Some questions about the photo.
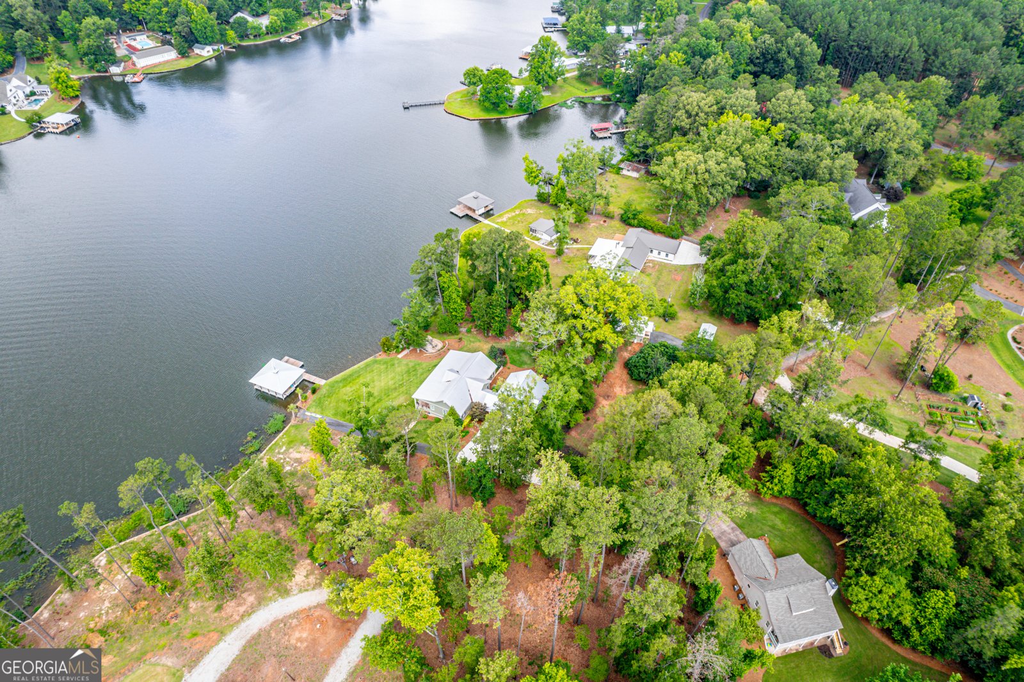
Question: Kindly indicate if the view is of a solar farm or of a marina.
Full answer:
What you see here is a marina.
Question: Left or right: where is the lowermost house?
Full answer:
The lowermost house is on the right side of the image.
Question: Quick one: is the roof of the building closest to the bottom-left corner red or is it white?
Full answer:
The roof of the building closest to the bottom-left corner looks white in the image.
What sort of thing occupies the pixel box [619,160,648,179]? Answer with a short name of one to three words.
shed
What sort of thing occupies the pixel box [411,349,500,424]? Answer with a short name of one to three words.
building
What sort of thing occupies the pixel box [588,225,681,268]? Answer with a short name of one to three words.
house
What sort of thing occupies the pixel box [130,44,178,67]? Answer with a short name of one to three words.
building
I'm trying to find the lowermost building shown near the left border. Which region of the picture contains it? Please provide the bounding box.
[35,112,81,135]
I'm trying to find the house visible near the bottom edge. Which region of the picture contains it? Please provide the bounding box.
[729,538,845,658]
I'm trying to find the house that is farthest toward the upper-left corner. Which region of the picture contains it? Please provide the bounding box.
[0,72,58,109]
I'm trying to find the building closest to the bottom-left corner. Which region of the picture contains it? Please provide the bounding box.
[249,356,327,403]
